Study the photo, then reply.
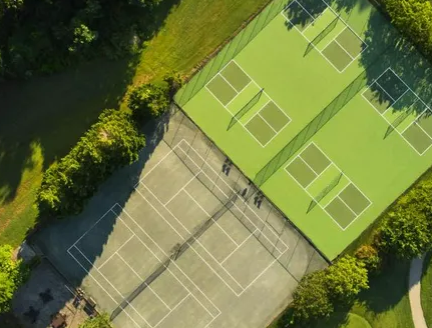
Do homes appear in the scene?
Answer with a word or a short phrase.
No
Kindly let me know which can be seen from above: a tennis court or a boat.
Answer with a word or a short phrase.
tennis court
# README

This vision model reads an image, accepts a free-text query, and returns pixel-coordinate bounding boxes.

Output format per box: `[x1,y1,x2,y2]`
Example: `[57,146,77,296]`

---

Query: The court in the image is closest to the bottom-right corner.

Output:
[285,142,371,230]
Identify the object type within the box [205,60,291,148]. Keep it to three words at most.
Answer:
sports court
